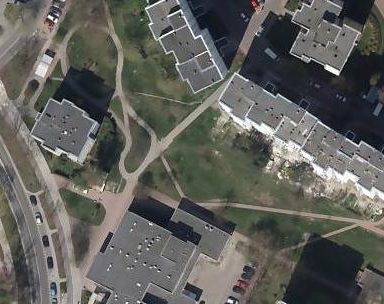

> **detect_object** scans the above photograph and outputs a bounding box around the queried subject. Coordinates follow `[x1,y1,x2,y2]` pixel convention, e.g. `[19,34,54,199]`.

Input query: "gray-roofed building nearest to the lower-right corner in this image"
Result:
[362,267,384,297]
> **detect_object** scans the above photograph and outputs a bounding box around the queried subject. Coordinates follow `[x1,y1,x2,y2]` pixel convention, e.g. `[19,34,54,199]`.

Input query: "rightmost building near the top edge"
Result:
[289,0,361,86]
